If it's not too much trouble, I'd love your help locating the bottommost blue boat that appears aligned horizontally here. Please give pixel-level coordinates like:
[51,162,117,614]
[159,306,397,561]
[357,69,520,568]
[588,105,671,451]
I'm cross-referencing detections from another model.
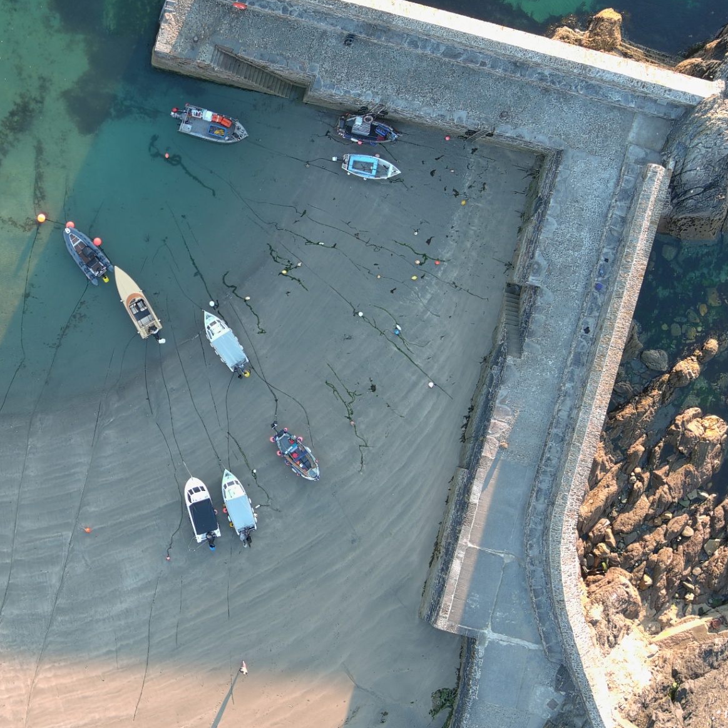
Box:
[329,153,401,178]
